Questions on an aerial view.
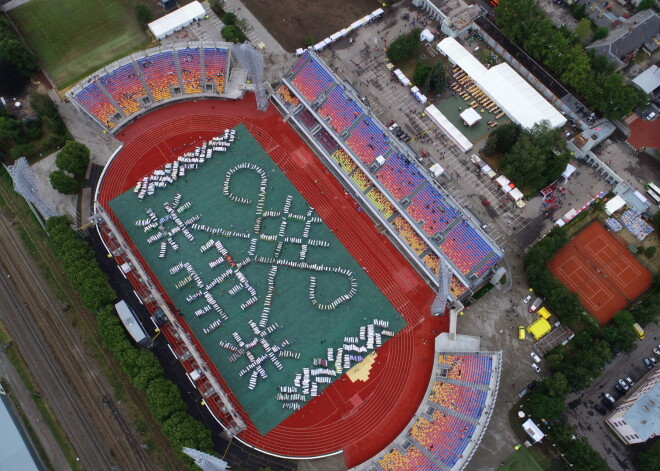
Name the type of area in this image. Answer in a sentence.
It's a sports ground.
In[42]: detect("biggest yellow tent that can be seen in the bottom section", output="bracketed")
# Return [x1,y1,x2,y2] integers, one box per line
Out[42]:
[526,318,551,341]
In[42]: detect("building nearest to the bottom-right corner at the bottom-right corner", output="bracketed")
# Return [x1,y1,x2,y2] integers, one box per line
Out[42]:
[608,363,660,444]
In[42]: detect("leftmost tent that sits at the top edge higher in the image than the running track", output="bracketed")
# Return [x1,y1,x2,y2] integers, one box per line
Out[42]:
[148,1,207,43]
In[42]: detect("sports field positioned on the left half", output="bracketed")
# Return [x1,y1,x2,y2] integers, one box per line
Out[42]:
[109,124,405,434]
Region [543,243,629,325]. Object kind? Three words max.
tennis court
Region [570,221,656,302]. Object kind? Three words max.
tennis court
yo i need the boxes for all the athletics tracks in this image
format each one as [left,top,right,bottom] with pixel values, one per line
[98,99,449,465]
